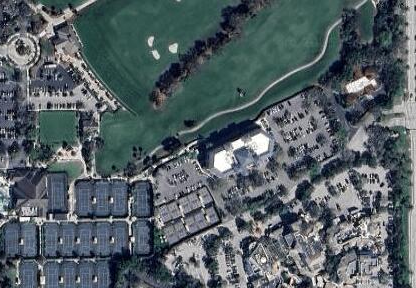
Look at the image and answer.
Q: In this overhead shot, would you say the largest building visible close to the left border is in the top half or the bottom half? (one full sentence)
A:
The largest building visible close to the left border is in the bottom half of the image.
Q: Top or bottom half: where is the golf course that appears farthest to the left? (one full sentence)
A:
The golf course that appears farthest to the left sits in the top half of the picture.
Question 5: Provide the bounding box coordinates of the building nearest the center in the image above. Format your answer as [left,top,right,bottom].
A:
[209,127,270,173]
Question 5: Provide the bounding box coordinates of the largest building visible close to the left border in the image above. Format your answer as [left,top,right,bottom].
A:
[7,165,52,216]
